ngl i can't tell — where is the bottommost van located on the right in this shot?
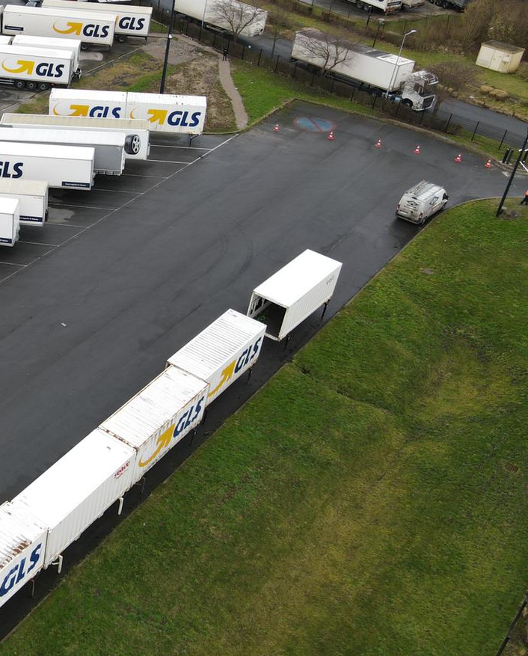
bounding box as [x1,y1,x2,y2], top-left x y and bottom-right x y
[401,180,449,219]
